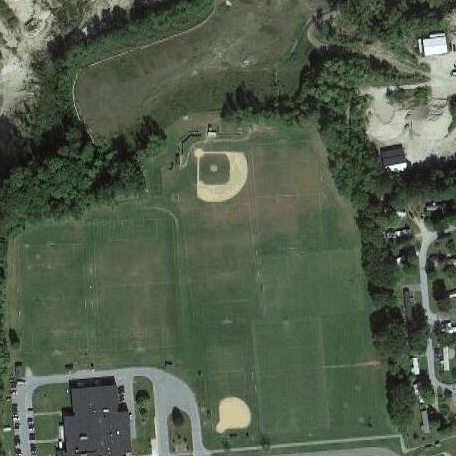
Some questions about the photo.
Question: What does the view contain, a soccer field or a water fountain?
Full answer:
Of the two, only a soccer field appears.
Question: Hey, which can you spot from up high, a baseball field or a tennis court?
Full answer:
Of the two, only a baseball field appears.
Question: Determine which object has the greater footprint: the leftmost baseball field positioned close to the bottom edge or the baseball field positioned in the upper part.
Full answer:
Compared with the leftmost baseball field positioned close to the bottom edge, the baseball field positioned in the upper part is the bigger one.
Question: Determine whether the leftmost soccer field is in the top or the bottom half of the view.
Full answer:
The leftmost soccer field is in the bottom half of the image.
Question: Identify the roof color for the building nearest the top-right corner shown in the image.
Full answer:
From above, the roof of the building nearest the top-right corner looks white.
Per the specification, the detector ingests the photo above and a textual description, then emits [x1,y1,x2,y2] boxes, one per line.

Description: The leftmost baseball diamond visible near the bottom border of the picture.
[213,397,250,437]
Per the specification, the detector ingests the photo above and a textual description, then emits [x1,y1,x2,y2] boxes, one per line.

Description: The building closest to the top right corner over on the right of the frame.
[417,32,447,56]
